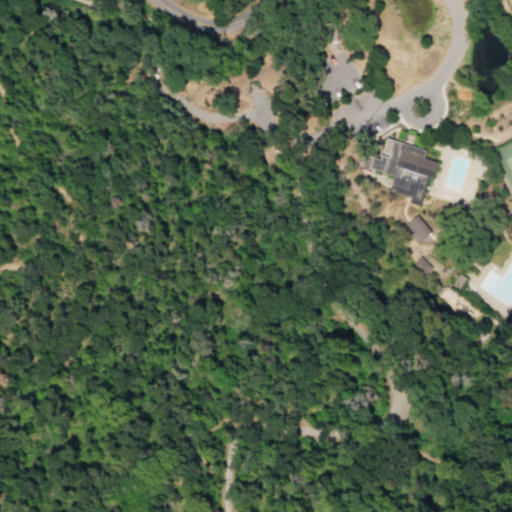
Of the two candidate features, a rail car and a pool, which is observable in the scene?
pool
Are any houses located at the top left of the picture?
No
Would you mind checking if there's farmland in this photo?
No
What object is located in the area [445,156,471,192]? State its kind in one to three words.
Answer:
swimming pool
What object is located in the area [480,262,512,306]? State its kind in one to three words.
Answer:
swimming pool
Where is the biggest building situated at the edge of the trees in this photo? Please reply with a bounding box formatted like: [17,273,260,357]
[371,138,440,204]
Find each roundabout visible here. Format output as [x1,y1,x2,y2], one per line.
[402,84,446,129]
